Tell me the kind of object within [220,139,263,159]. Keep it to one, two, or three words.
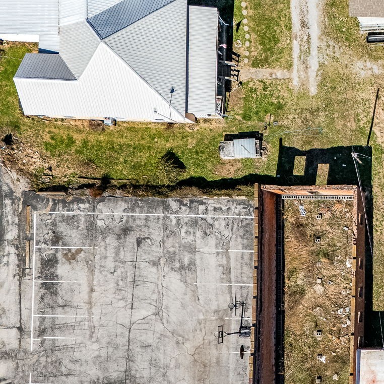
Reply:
shed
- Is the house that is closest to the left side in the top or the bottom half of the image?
top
